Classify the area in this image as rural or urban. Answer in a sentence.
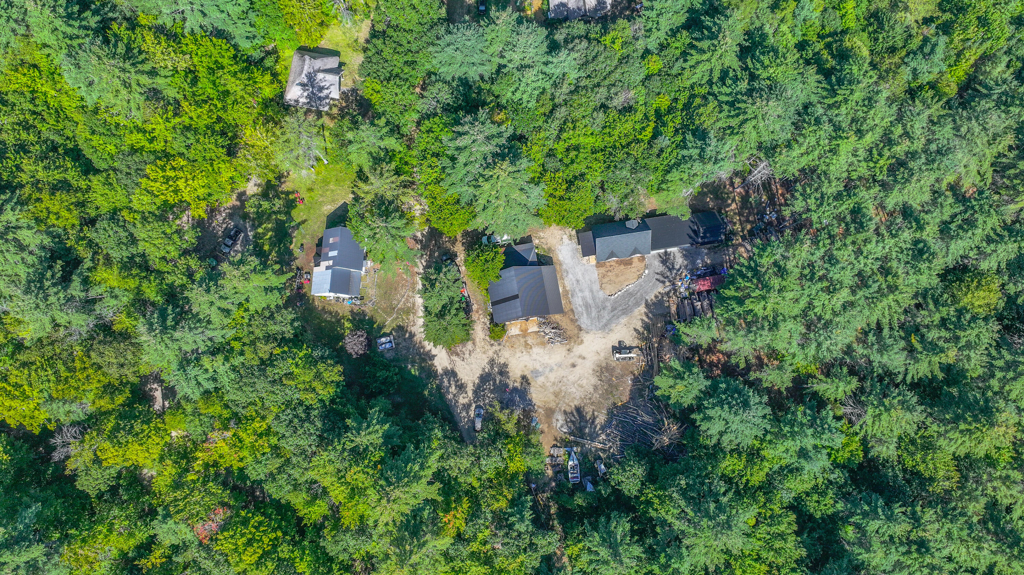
The area is rural.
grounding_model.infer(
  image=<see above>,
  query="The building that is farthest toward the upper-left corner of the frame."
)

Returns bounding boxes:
[284,51,348,113]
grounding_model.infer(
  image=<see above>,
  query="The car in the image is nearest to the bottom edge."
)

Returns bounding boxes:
[472,407,485,436]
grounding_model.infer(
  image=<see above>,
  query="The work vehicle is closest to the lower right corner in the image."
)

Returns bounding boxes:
[612,347,652,362]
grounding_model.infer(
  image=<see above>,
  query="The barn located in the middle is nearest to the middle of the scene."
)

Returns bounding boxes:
[486,265,563,323]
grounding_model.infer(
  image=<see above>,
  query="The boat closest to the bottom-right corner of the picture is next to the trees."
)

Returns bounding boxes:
[596,461,609,480]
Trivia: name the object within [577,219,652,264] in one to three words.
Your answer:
house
